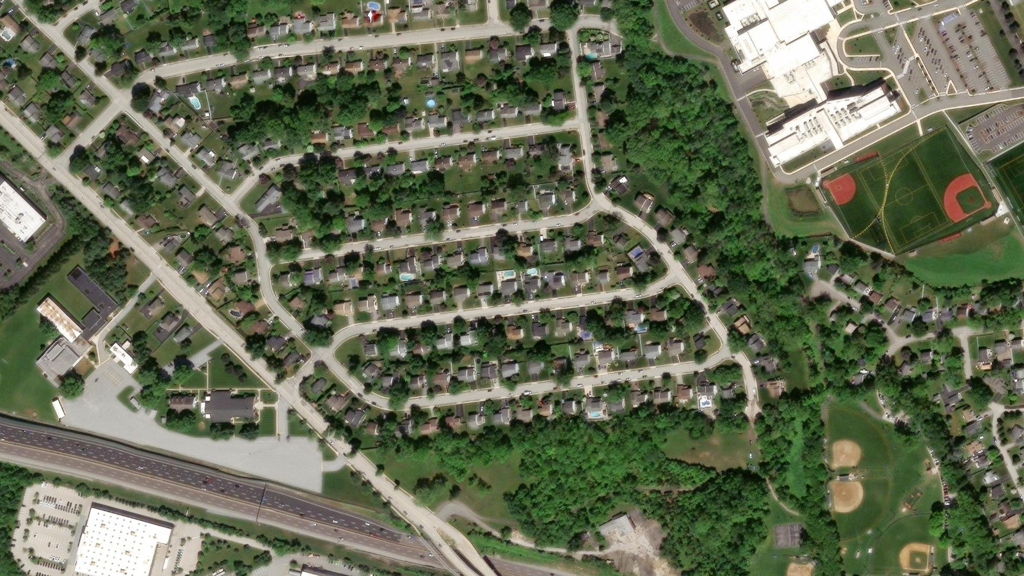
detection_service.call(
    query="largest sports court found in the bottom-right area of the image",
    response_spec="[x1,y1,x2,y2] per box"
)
[775,525,803,548]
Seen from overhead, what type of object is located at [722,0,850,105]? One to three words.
building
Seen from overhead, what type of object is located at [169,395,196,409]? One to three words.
house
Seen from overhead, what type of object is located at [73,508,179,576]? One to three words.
building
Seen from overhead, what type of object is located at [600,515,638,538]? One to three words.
shed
